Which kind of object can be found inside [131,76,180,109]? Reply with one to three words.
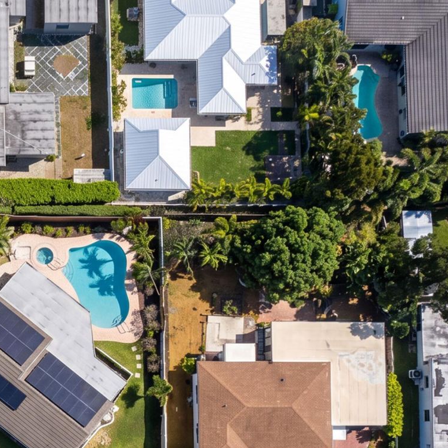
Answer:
swimming pool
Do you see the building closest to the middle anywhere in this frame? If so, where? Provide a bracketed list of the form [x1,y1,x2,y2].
[124,118,191,192]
